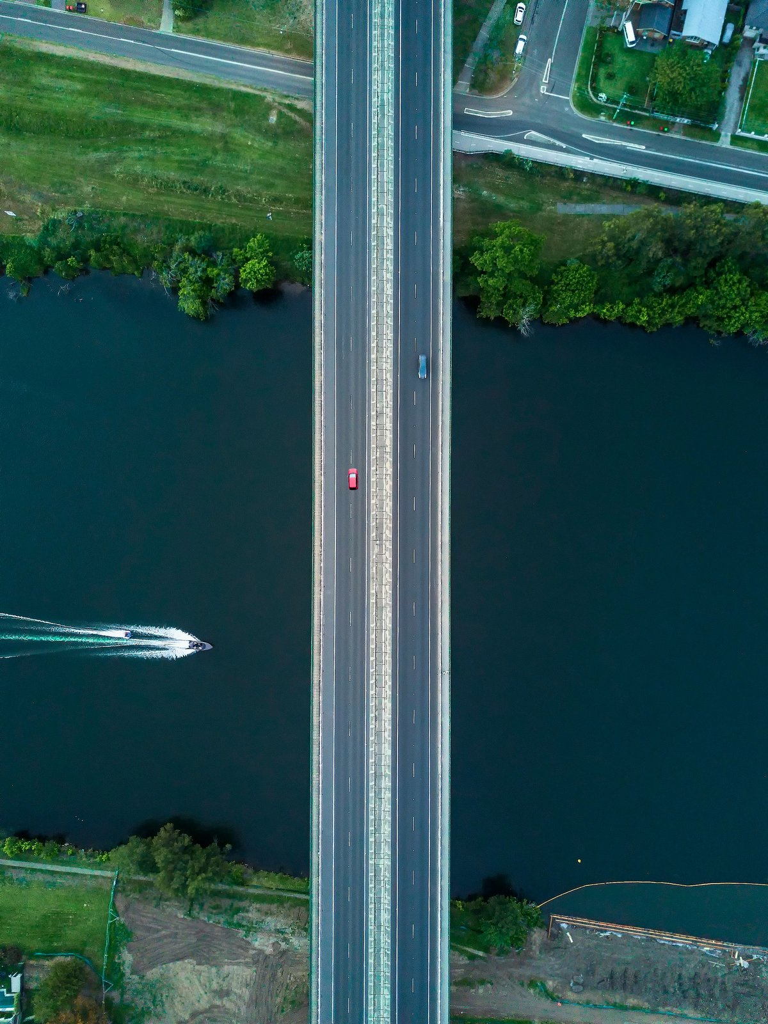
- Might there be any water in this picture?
Yes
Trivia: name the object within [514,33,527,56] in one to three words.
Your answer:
vehicle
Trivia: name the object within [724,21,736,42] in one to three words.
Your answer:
vehicle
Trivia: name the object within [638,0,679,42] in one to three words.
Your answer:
house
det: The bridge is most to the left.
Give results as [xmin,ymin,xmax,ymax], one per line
[310,0,453,1024]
